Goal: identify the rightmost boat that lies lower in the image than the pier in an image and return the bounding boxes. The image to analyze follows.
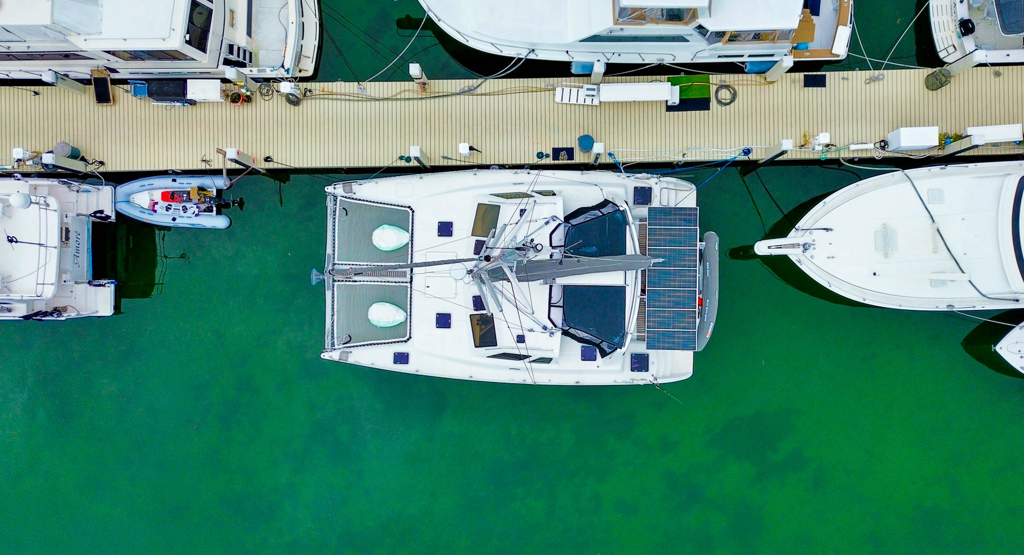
[992,322,1024,377]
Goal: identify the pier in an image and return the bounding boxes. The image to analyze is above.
[0,66,1024,174]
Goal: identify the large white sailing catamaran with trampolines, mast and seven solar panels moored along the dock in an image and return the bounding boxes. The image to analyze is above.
[310,168,703,392]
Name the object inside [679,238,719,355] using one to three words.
boat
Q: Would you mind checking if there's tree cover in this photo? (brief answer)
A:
No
